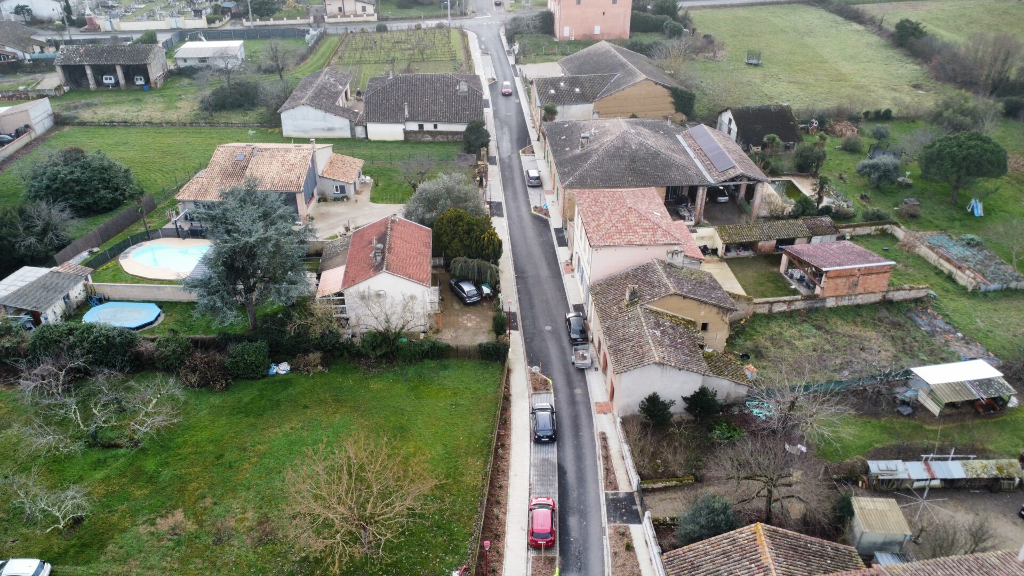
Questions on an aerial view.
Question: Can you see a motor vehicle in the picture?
Yes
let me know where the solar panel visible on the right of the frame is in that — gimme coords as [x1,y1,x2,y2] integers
[690,125,735,171]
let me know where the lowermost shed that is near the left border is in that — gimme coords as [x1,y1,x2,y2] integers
[0,261,95,325]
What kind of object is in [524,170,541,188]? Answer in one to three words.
car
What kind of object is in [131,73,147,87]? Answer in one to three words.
vehicle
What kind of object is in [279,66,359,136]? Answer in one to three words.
shed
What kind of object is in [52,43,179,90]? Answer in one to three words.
barn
